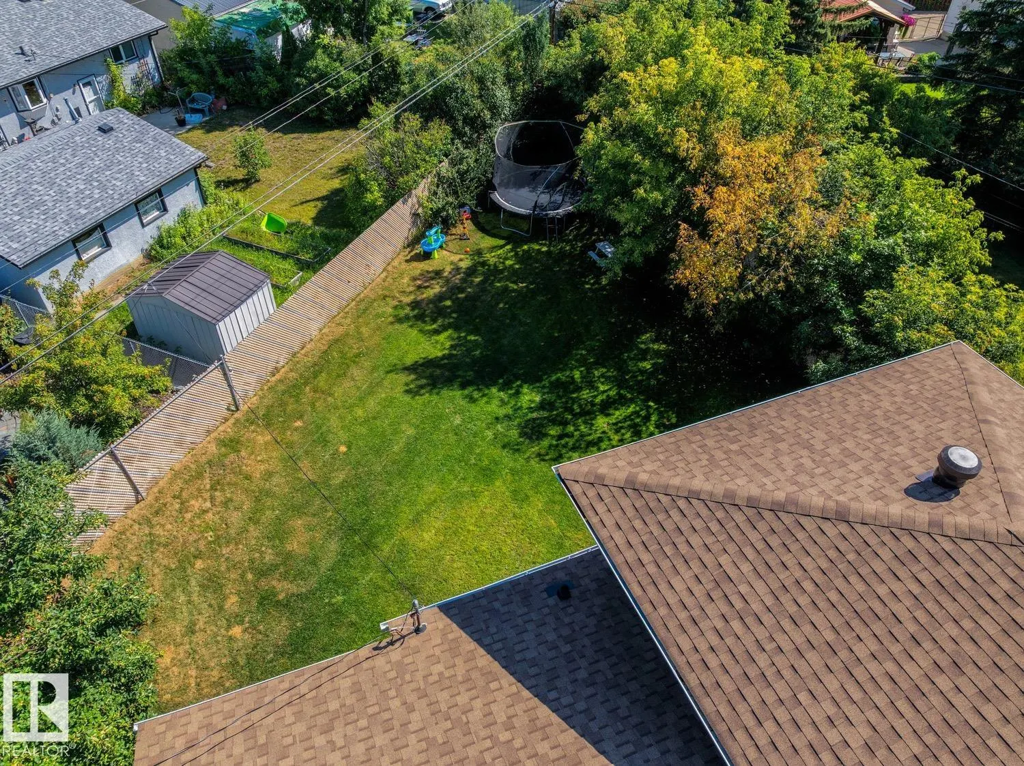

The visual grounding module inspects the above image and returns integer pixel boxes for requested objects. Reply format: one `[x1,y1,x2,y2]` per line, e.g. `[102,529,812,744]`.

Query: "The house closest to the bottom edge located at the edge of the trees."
[126,338,1024,766]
